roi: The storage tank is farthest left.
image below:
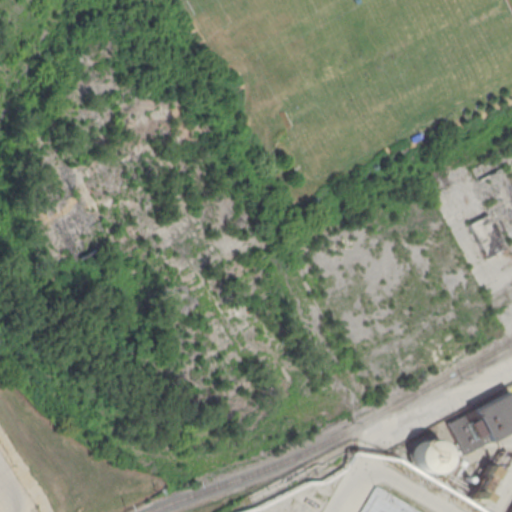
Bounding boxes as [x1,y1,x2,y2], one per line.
[413,438,460,478]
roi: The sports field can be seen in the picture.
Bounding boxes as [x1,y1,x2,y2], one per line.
[185,0,512,204]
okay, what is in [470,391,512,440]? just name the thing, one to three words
building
